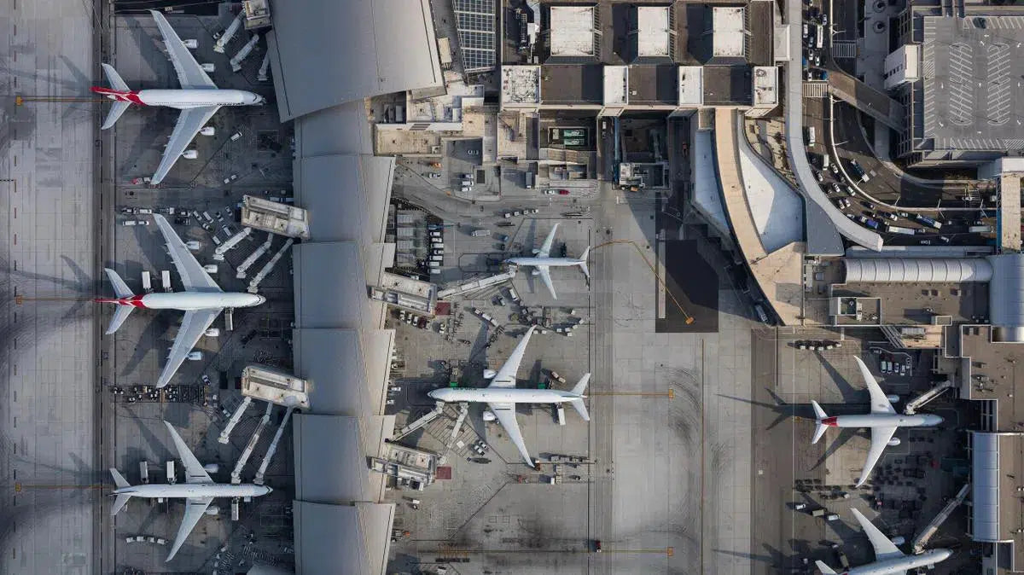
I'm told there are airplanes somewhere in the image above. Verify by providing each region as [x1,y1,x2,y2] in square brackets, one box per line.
[820,508,953,575]
[90,10,267,185]
[504,223,590,301]
[429,325,591,467]
[99,421,273,563]
[809,356,944,488]
[98,212,267,387]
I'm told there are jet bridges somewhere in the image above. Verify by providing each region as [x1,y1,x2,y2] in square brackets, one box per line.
[230,403,277,486]
[229,32,264,77]
[439,401,470,469]
[219,398,255,445]
[258,48,272,84]
[248,236,298,295]
[392,400,445,442]
[215,226,256,261]
[437,266,520,300]
[901,379,954,417]
[911,480,974,555]
[255,407,294,486]
[213,8,244,57]
[237,231,280,281]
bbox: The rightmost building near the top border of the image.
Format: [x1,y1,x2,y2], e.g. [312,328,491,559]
[885,0,1024,168]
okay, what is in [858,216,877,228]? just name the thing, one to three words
vehicle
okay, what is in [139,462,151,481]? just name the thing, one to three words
vehicle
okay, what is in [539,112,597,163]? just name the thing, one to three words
building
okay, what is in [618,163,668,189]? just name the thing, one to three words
house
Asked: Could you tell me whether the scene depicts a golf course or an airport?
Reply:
airport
